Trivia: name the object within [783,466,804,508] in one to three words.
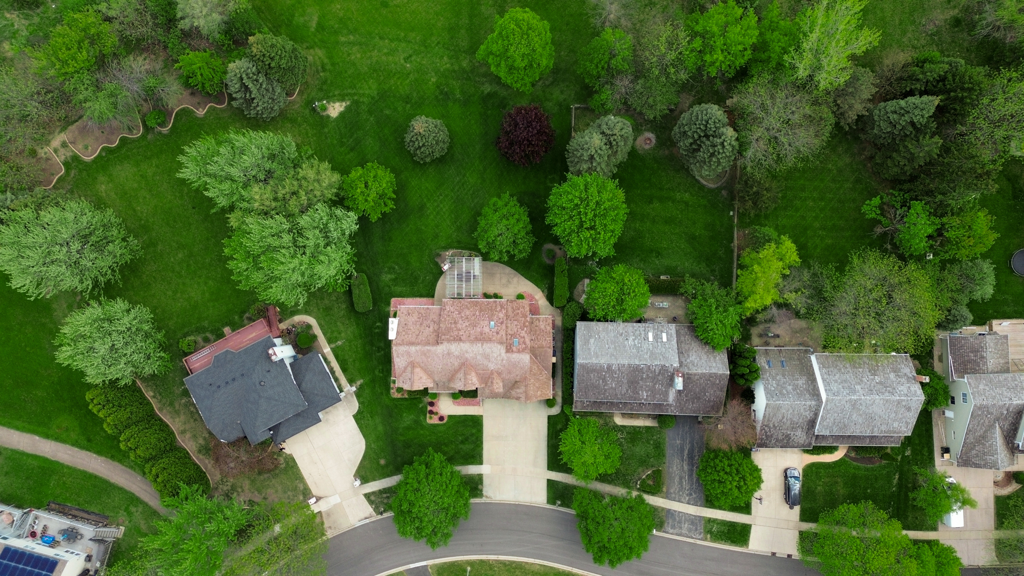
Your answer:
car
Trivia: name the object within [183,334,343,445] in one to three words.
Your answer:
house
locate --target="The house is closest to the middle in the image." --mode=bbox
[389,299,553,403]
